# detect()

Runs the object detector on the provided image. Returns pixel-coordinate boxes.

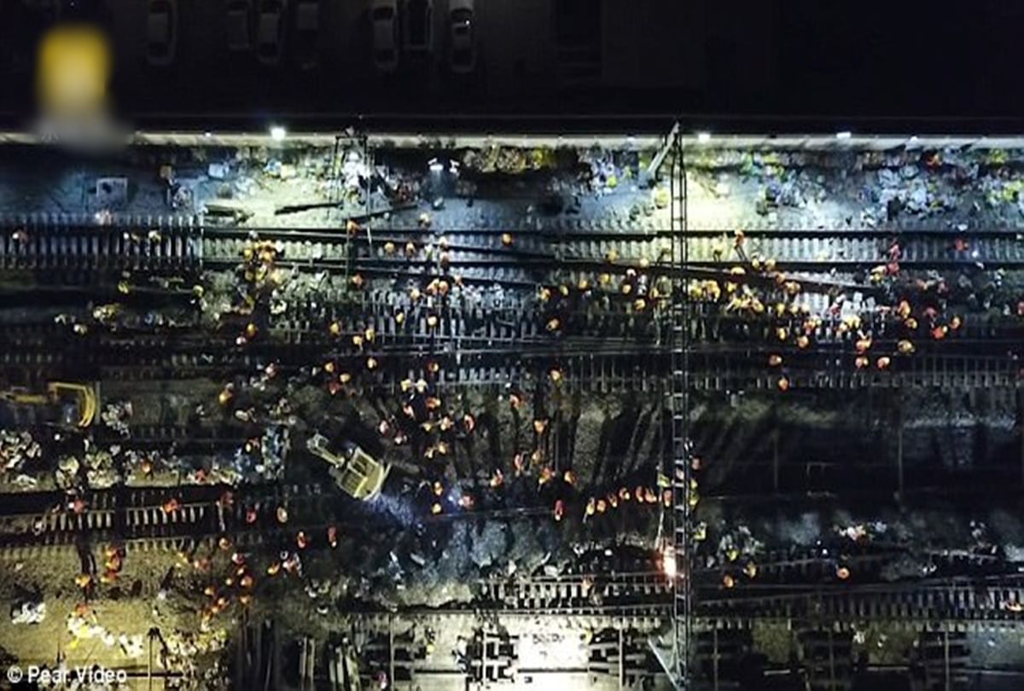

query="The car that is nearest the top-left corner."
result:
[133,0,178,65]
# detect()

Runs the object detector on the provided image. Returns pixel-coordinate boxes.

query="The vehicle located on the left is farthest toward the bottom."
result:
[301,435,403,514]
